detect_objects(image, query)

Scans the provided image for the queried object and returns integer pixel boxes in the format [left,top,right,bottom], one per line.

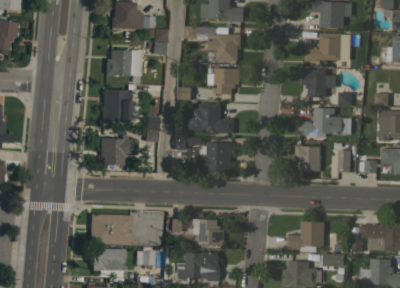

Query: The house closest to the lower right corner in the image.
[361,260,400,288]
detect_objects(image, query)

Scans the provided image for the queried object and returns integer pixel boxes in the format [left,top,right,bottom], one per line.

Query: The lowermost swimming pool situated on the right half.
[340,72,361,92]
